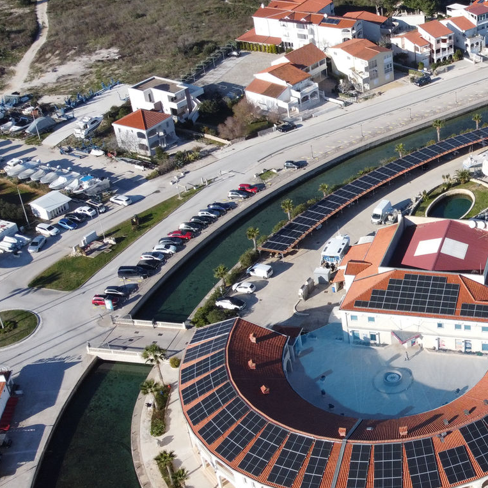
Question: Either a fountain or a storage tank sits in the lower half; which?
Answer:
fountain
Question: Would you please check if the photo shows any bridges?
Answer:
Yes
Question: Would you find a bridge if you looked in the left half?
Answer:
Yes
